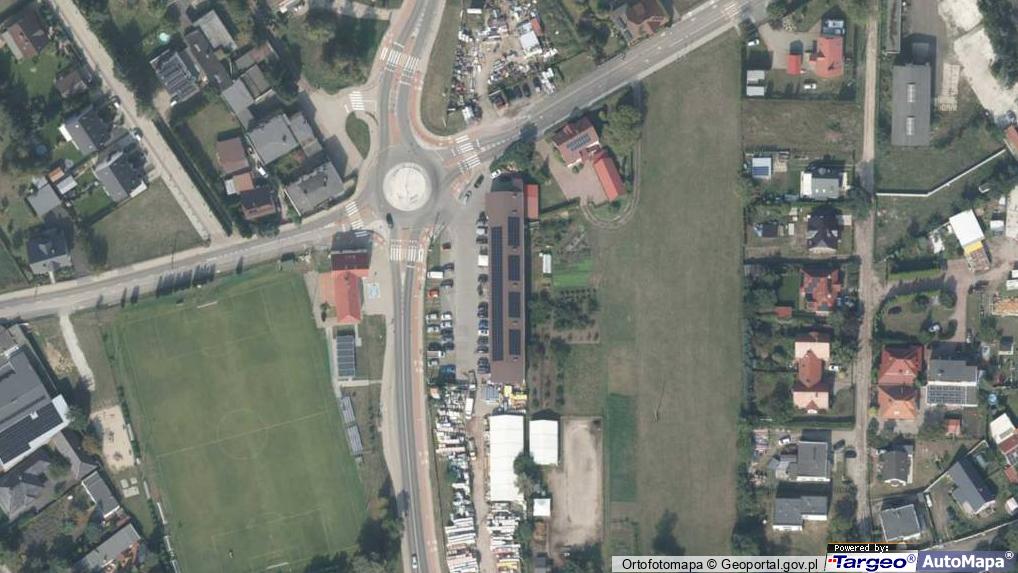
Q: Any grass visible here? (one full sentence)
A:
Yes, the picture does contain grass.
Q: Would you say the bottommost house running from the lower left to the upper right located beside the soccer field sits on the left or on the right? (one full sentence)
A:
The bottommost house running from the lower left to the upper right located beside the soccer field sits on the left side.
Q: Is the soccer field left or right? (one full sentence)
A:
It is on the left.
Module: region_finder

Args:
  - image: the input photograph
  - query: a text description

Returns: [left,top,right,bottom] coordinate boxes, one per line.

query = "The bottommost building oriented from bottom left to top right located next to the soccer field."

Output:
[70,523,141,573]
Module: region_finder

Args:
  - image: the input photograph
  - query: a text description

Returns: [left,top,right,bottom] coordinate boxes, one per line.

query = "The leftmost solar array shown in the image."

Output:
[0,403,61,462]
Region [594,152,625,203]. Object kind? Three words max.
building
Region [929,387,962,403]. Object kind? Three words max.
solar array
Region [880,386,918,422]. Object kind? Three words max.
house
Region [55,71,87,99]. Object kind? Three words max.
shed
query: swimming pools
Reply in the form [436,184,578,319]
[159,31,169,43]
[988,393,998,404]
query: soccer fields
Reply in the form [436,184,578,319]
[110,267,370,573]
